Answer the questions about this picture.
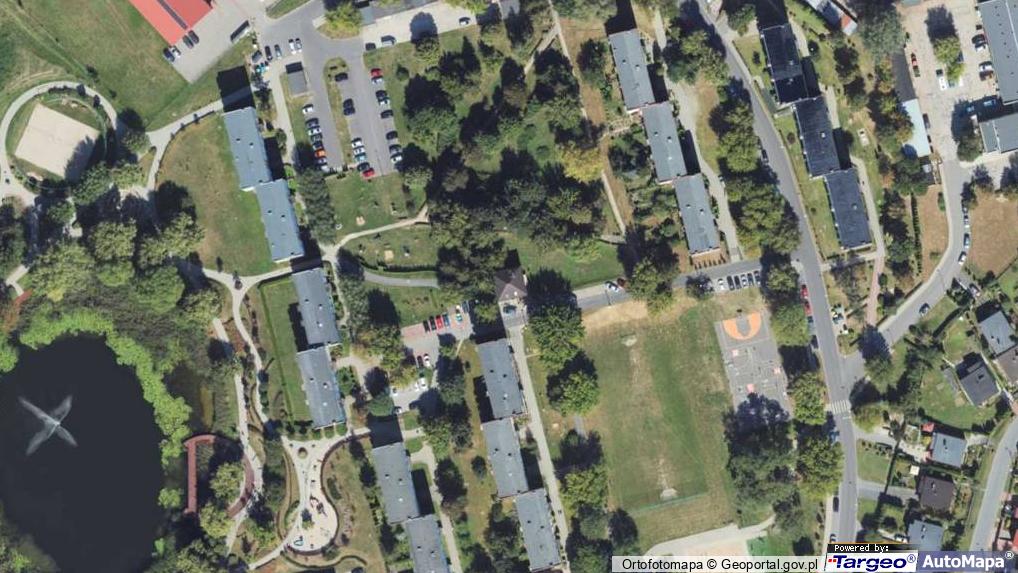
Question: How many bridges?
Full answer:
The photo contains no bridges.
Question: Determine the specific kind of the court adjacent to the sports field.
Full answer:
From above, the court adjacent to the sports field can be identified as a basketball court.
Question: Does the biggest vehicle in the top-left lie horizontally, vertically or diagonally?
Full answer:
In this picture, the biggest vehicle in the top-left is oriented diagonally.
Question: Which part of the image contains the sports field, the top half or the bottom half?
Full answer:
The sports field is in the bottom half of the image.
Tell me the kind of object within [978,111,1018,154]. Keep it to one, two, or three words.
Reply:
building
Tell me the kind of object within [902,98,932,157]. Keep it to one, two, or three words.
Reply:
shed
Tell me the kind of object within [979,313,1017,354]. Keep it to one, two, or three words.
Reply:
house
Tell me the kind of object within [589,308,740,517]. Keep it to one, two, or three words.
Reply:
sports field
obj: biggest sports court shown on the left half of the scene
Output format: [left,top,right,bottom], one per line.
[15,102,98,178]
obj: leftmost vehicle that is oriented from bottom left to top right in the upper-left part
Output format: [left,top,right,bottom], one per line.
[230,23,252,43]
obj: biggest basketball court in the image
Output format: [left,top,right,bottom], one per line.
[715,310,796,440]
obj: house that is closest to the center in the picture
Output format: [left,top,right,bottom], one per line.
[494,269,527,301]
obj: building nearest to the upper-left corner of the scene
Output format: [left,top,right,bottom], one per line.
[130,0,212,45]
